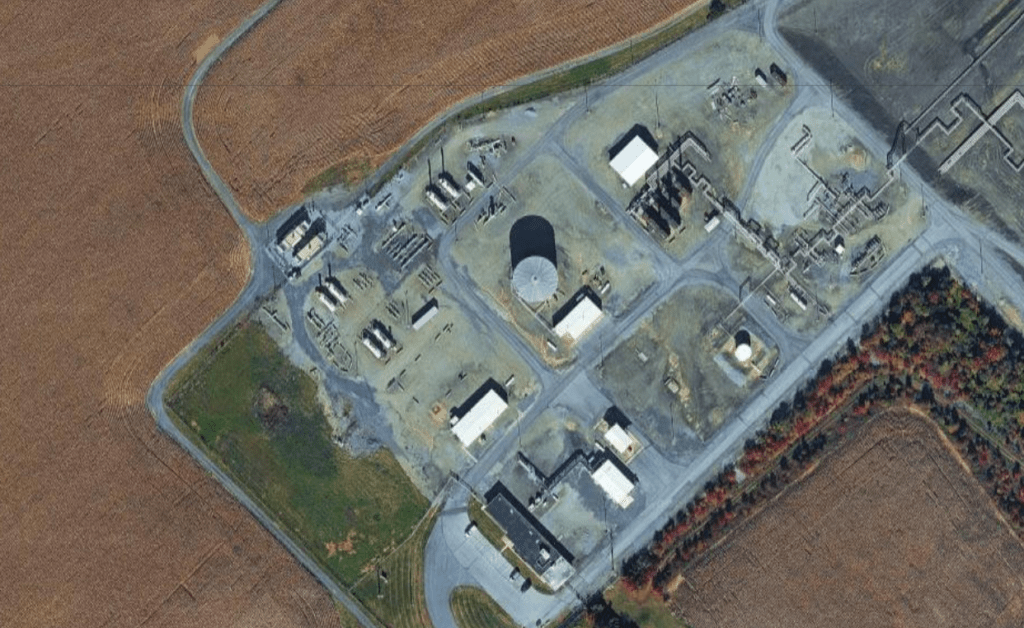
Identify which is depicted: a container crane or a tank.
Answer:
tank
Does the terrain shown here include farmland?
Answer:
Yes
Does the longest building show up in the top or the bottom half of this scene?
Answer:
bottom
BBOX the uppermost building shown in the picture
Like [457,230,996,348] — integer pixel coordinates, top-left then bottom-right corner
[609,135,659,185]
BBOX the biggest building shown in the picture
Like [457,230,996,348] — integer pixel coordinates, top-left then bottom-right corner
[485,494,576,592]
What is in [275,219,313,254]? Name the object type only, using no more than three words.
building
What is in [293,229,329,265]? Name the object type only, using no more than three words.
building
